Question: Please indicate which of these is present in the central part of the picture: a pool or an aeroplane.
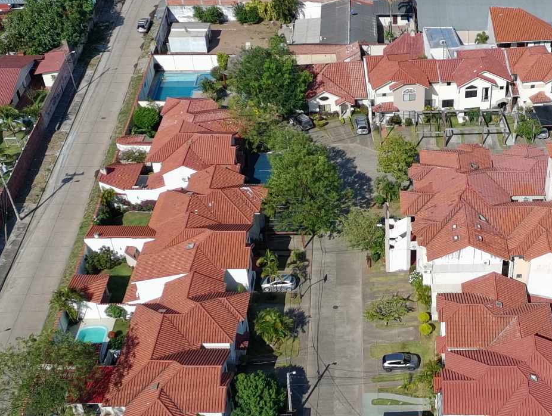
pool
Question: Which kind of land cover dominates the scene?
buildings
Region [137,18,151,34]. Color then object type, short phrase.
gray vehicle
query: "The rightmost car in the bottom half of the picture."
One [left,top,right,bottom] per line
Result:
[379,350,422,374]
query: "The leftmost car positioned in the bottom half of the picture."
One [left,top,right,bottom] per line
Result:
[261,274,296,293]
